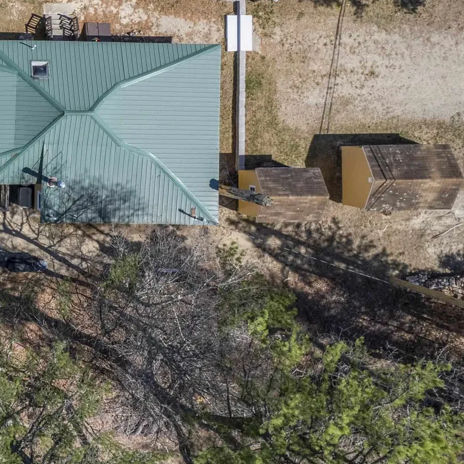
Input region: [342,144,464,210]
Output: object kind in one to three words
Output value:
shed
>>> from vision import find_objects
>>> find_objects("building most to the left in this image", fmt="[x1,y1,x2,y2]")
[0,40,221,228]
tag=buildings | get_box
[342,144,464,210]
[237,165,329,222]
[0,40,221,228]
